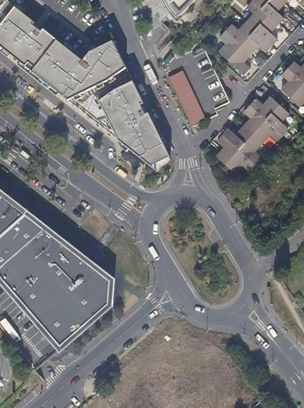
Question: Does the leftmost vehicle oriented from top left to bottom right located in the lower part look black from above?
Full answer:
No, the leftmost vehicle oriented from top left to bottom right located in the lower part is white.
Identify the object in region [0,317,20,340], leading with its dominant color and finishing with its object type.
white vehicle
